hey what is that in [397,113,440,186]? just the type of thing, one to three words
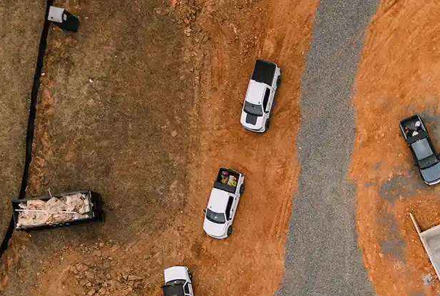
truck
